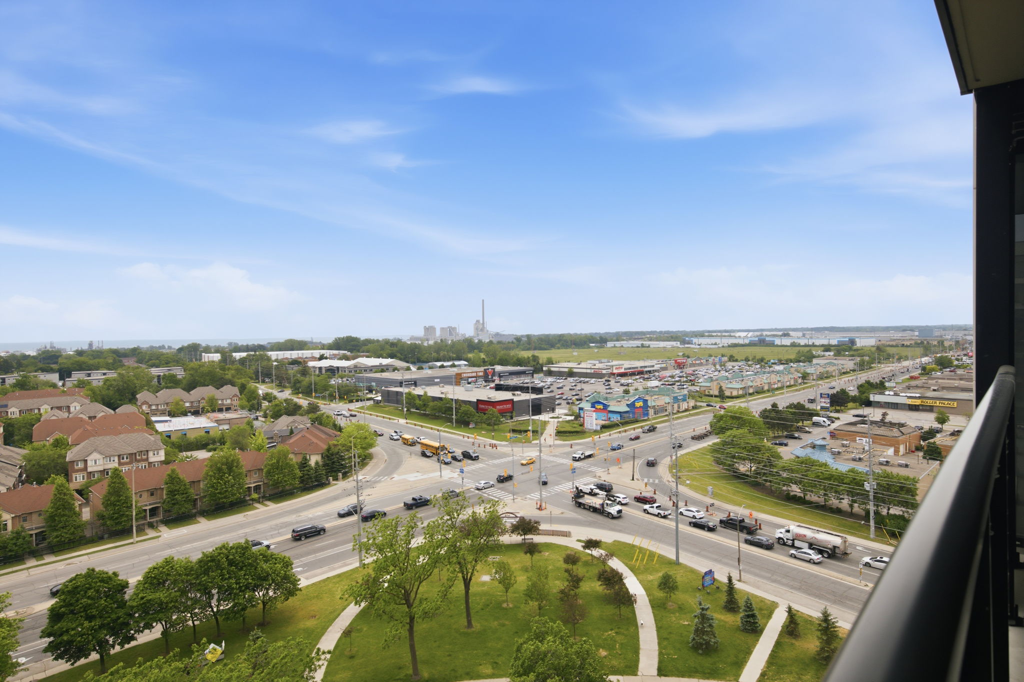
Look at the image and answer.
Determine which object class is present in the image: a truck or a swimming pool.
truck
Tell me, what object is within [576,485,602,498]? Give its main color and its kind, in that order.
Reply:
white vehicle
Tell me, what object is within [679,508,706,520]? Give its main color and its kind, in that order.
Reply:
white vehicle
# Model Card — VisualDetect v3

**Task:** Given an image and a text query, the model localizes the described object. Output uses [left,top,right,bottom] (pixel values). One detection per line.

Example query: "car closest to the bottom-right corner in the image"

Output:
[858,555,889,568]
